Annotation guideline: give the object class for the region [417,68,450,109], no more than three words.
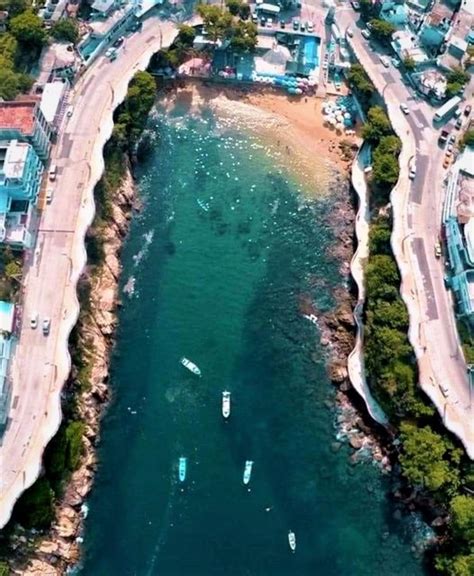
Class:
house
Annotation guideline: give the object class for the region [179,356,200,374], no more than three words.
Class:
boat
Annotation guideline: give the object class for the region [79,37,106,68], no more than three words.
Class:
building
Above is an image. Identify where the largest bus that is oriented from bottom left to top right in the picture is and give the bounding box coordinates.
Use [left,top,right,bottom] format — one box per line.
[430,96,460,123]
